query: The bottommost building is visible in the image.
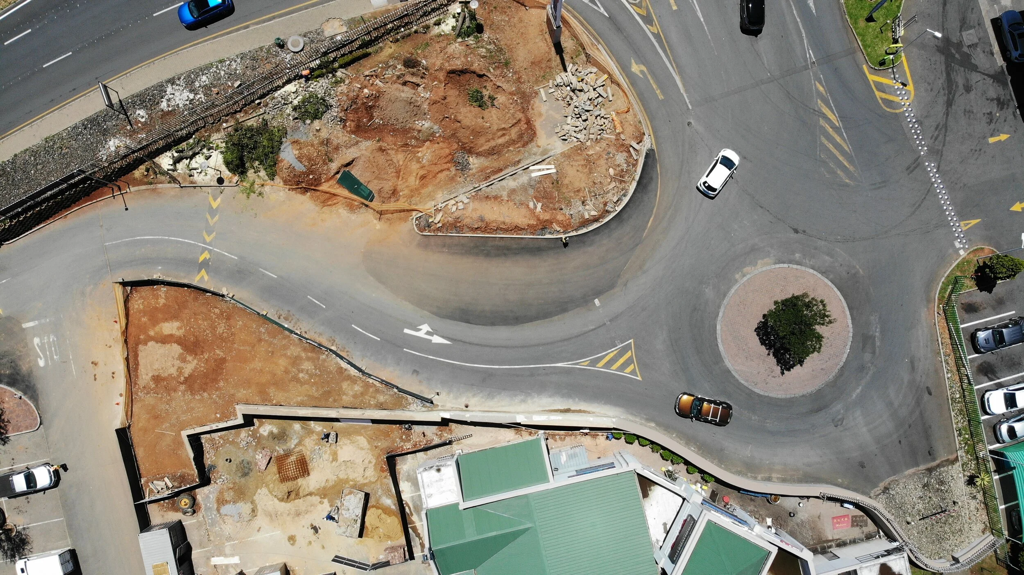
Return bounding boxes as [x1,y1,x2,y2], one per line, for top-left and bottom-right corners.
[813,534,910,575]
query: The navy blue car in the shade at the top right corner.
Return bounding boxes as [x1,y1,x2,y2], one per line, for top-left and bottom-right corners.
[997,8,1024,67]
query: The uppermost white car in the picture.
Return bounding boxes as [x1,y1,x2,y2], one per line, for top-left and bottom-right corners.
[695,147,741,199]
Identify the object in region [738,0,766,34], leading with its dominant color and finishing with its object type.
black car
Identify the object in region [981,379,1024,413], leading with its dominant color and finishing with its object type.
white car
